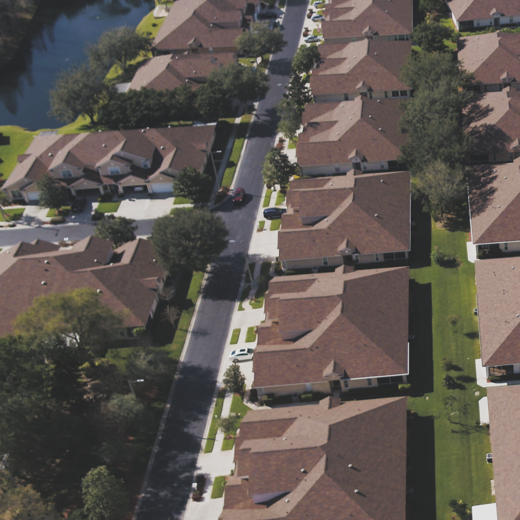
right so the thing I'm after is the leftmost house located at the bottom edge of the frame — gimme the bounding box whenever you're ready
[212,393,408,520]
